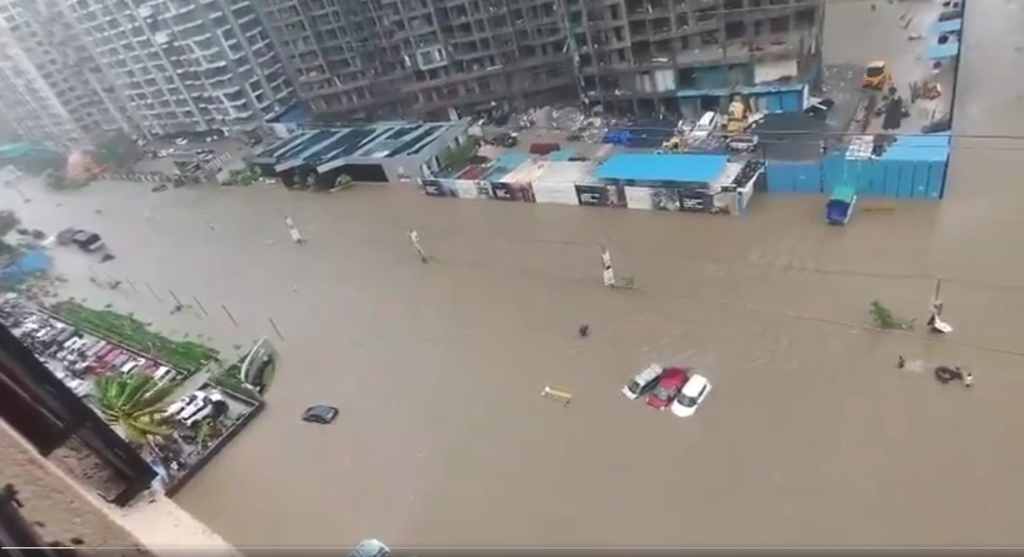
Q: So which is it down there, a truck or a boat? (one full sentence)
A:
There is a truck in the scene.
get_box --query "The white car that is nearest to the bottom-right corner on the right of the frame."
[673,376,714,418]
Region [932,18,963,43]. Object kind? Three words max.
shed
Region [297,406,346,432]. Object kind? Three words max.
car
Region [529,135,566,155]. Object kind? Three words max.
vehicle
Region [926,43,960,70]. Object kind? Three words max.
shed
